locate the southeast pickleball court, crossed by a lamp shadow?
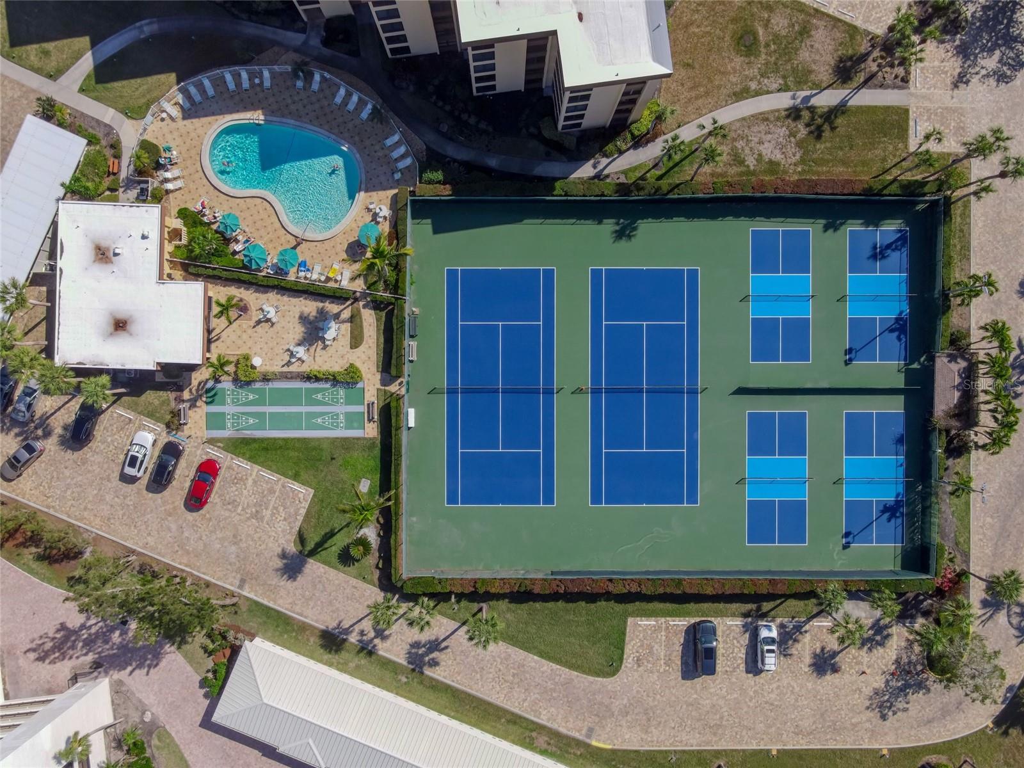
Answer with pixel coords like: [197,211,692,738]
[839,411,915,546]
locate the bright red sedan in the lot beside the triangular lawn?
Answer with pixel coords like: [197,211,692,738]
[185,460,220,511]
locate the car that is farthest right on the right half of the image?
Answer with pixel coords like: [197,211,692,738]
[755,624,779,672]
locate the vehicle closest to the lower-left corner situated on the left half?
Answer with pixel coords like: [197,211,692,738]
[1,440,46,480]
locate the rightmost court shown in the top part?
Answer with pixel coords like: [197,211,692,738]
[843,228,919,363]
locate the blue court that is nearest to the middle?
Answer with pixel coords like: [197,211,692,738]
[436,268,565,506]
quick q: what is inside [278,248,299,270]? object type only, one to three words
umbrella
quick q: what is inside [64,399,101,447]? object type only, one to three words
car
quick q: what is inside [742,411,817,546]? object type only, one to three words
sports court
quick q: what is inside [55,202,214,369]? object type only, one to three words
building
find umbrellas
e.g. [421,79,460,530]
[155,145,171,157]
[219,214,242,236]
[360,224,381,245]
[245,245,267,268]
[278,248,299,270]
